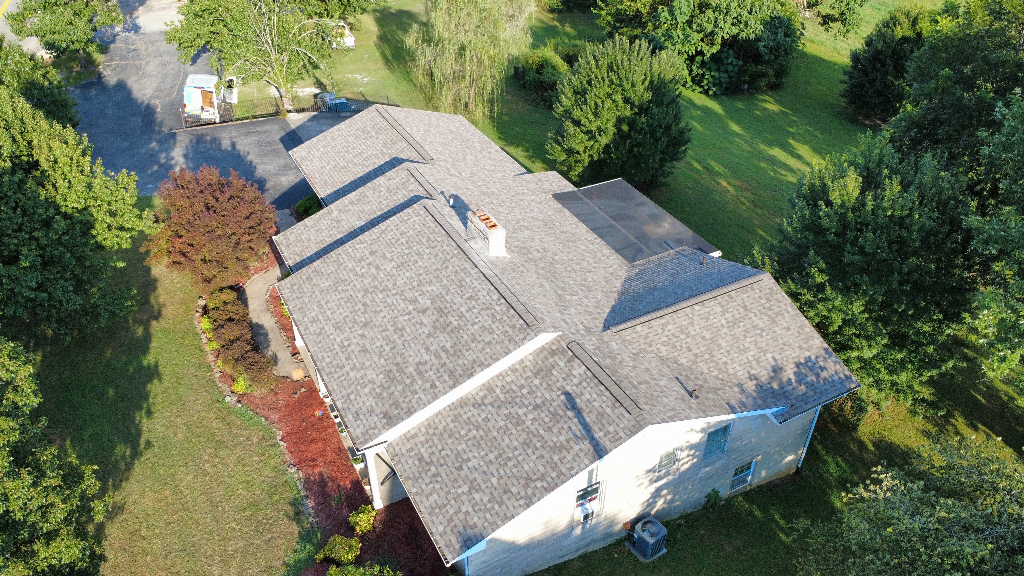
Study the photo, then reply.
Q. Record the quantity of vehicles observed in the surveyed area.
three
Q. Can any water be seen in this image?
No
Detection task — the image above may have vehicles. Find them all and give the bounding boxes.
[176,72,240,124]
[326,25,357,54]
[305,90,354,112]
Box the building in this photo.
[272,104,866,576]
